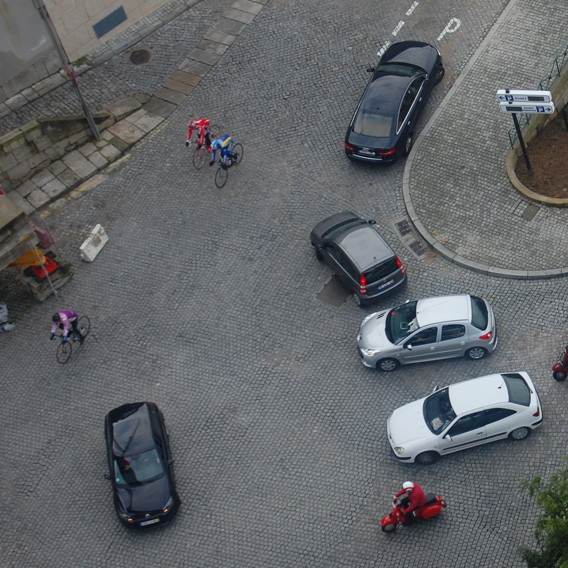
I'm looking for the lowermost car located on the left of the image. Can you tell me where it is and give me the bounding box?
[100,394,180,524]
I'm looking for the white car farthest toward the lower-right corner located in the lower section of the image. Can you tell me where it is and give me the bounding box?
[386,371,542,466]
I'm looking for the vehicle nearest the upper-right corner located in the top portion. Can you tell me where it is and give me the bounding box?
[343,47,444,166]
